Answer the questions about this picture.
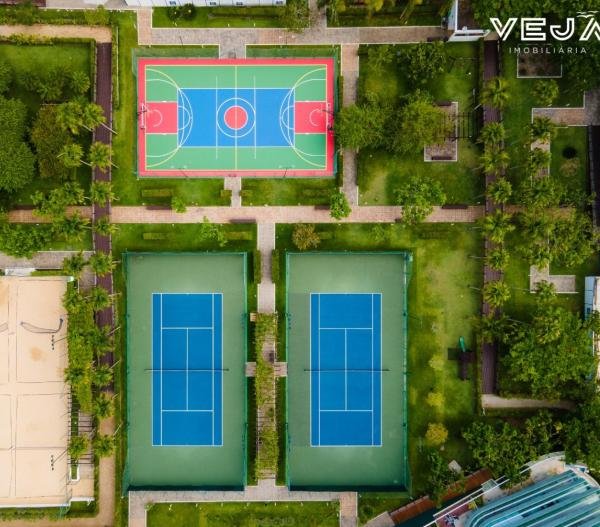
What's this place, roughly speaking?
sports ground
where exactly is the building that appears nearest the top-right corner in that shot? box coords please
[448,0,490,41]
